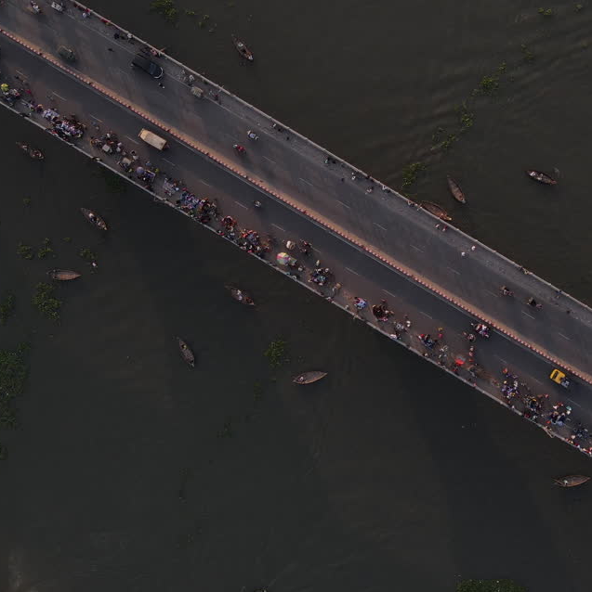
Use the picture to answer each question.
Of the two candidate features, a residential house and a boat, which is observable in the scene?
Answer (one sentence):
The image shows a boat.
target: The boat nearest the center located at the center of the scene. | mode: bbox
[222,284,255,306]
